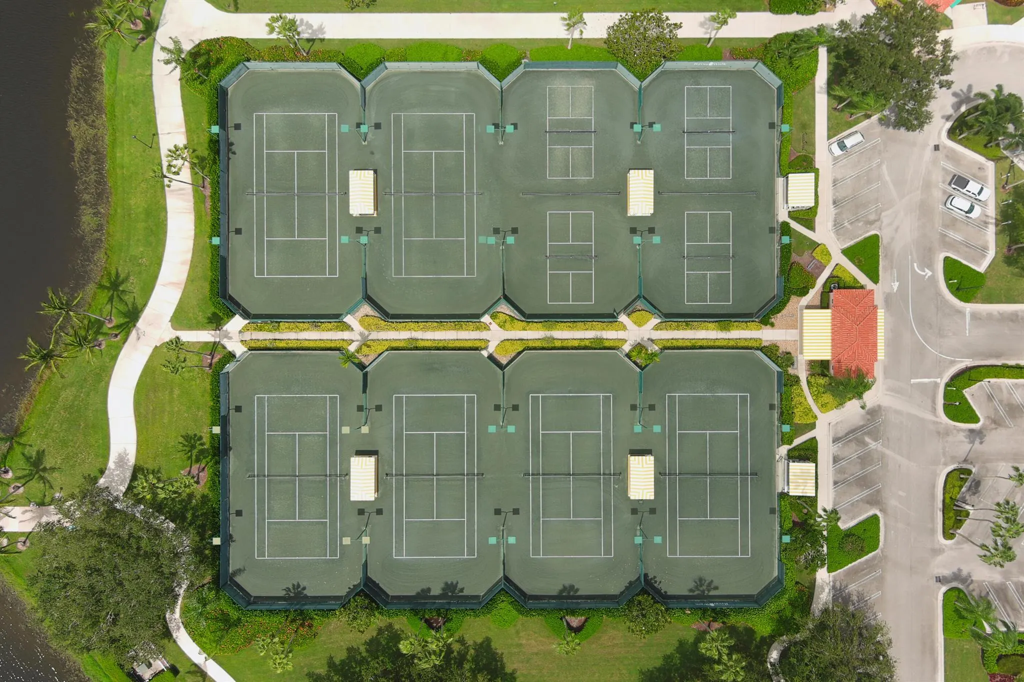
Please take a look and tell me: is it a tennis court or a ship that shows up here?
tennis court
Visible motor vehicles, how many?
3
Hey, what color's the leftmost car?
white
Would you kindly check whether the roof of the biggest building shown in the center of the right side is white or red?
red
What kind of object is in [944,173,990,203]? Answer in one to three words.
truck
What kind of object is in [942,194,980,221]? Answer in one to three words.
car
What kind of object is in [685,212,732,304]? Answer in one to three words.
sports court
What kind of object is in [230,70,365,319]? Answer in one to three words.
tennis court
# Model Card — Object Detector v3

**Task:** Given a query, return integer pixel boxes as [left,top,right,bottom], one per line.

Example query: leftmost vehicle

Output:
[826,130,866,157]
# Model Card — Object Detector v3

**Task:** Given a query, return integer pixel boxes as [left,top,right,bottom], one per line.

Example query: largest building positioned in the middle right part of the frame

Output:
[796,289,884,379]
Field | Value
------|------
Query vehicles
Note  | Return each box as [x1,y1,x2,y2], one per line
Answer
[944,173,990,203]
[826,130,866,157]
[942,194,980,221]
